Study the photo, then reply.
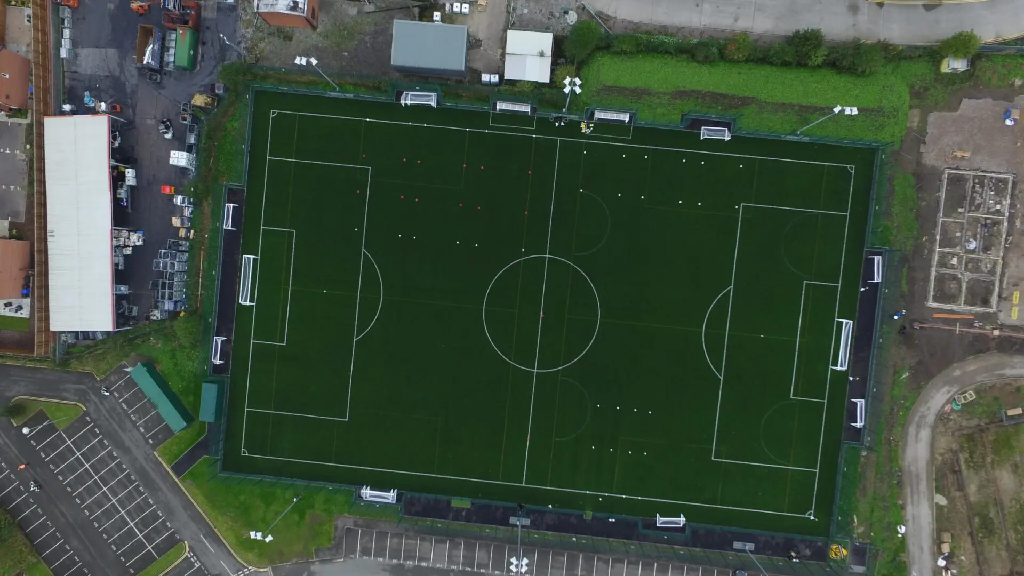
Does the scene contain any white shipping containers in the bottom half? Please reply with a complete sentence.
No, no white shipping container appears in the bottom half.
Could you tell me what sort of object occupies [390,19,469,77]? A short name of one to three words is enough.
shed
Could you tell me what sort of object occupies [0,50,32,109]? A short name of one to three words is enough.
house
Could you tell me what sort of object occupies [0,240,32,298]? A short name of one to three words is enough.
house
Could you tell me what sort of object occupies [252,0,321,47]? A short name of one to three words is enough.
building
